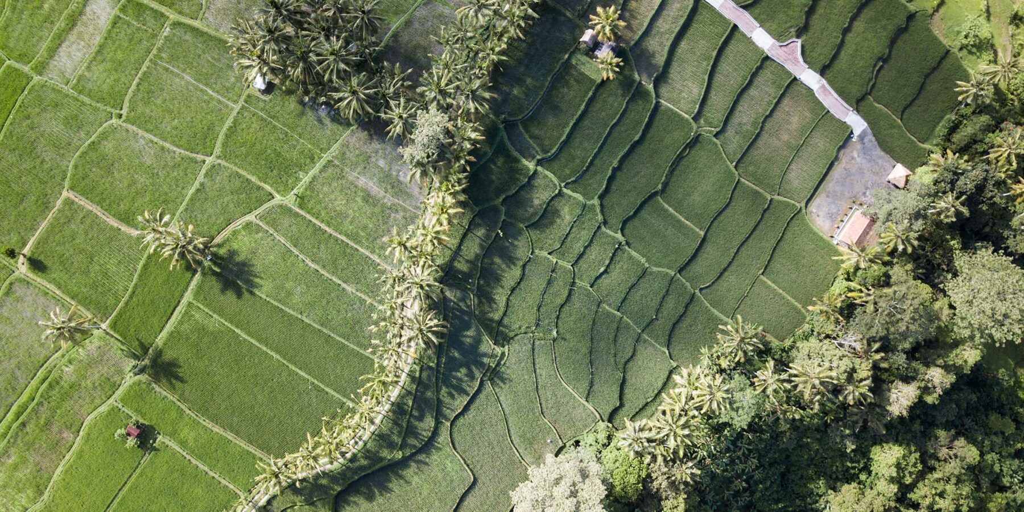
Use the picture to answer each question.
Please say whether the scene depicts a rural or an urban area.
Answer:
rural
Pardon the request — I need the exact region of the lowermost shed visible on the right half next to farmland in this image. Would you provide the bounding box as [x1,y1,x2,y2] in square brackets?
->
[835,210,874,252]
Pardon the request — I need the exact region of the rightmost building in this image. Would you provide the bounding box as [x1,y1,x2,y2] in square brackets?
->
[882,161,911,189]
